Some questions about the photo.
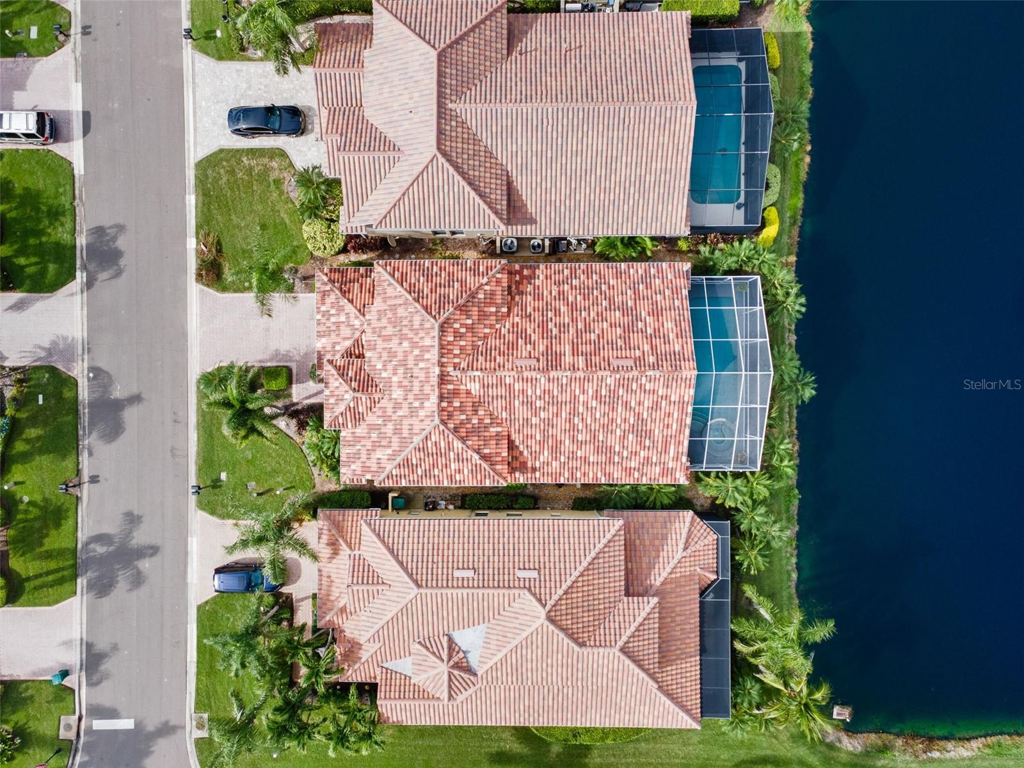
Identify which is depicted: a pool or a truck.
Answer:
pool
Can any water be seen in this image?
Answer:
Yes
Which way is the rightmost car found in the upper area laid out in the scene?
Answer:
horizontally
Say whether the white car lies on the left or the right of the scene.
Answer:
left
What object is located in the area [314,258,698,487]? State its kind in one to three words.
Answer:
house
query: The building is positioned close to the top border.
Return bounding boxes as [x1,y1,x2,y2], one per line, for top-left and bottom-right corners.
[313,0,698,238]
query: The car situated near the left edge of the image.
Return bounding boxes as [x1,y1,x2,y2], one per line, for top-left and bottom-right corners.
[0,111,56,148]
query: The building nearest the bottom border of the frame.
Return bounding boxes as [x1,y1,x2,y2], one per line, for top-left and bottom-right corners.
[315,507,719,732]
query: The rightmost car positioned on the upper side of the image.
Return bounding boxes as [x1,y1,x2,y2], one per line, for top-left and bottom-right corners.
[228,102,308,140]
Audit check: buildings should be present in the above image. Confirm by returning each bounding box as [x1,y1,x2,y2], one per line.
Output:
[315,507,719,732]
[313,0,698,238]
[314,258,698,487]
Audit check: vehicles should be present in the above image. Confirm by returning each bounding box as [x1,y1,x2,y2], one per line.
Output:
[0,111,56,148]
[211,562,285,598]
[228,102,308,140]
